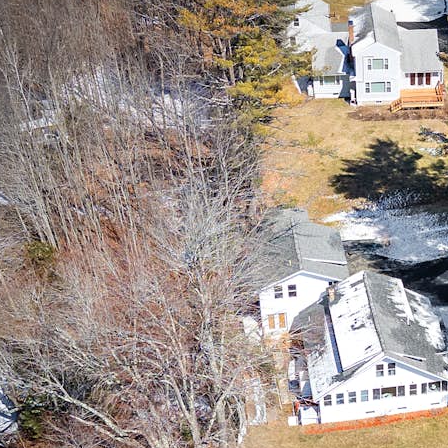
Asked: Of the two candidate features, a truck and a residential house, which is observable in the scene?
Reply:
residential house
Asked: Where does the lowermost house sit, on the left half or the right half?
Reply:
right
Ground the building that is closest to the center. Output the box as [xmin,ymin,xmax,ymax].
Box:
[253,203,349,340]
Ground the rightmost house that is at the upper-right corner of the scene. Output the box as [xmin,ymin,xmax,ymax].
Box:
[308,4,445,114]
